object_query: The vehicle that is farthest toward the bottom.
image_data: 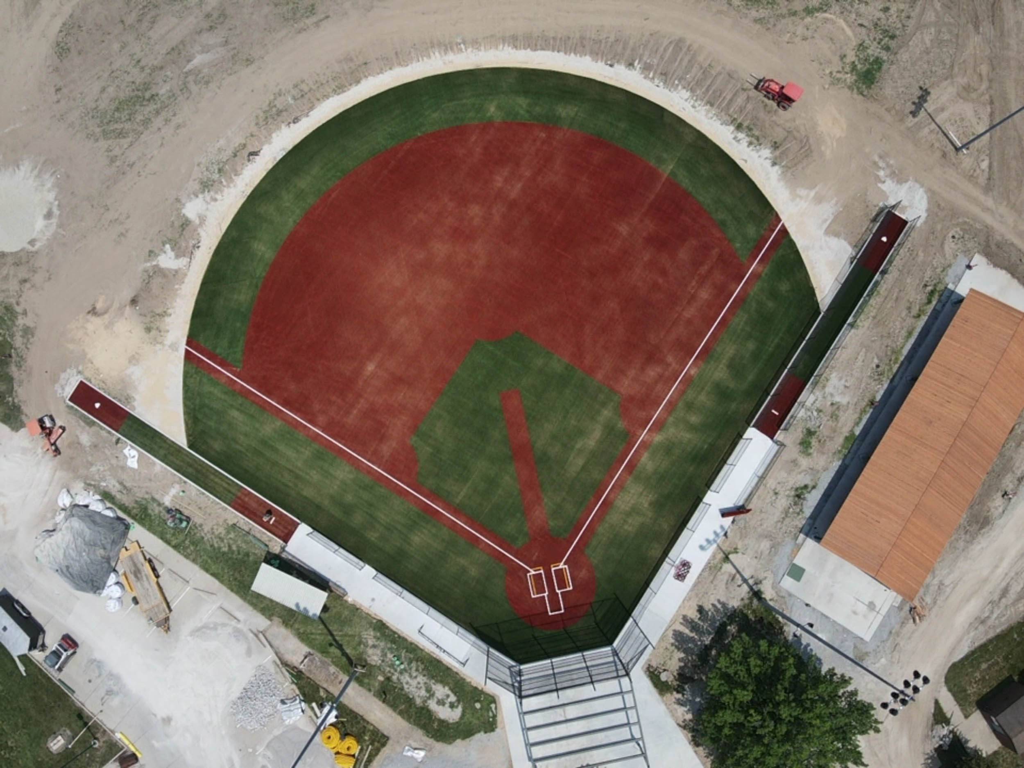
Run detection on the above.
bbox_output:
[36,631,80,677]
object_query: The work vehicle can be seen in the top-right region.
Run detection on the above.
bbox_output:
[745,76,805,112]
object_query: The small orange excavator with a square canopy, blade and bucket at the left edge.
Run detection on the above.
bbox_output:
[27,412,67,457]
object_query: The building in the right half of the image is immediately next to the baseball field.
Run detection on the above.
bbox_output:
[814,291,1024,602]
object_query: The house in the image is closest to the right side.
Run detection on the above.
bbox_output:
[982,676,1024,762]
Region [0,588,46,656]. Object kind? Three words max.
trailer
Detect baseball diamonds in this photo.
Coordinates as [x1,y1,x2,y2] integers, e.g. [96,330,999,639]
[182,67,823,664]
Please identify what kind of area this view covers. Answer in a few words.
sports ground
